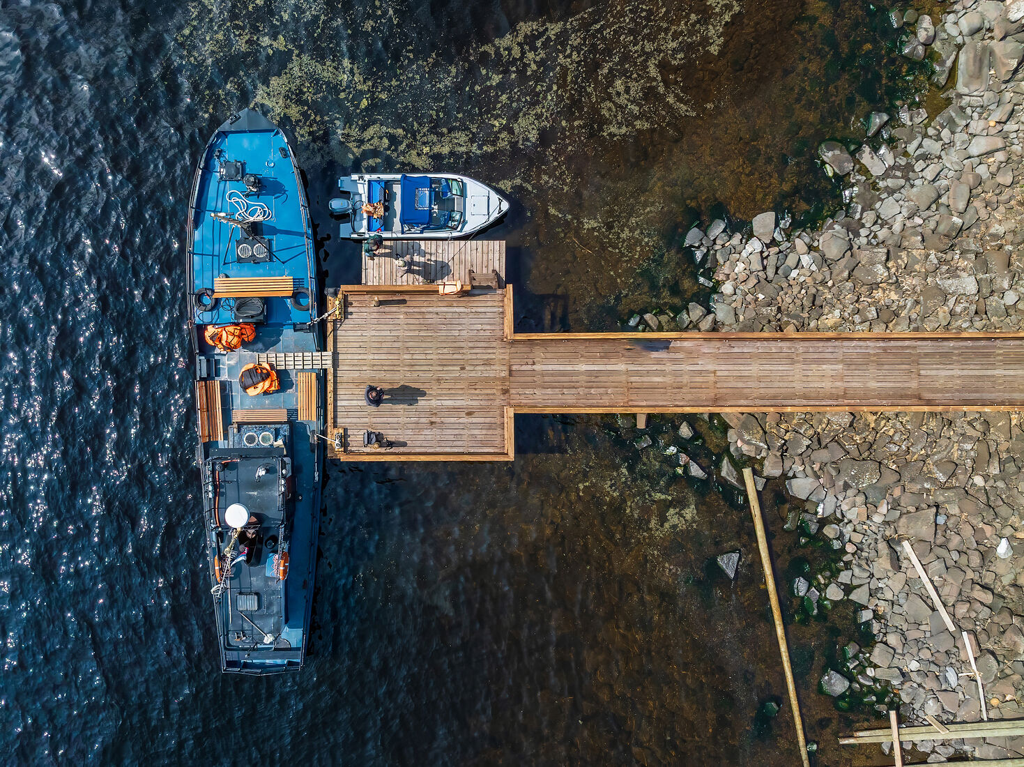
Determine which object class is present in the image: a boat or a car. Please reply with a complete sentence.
The one in the frame is a boat.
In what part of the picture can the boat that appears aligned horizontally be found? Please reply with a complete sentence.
The boat that appears aligned horizontally is located in the top region of the scene.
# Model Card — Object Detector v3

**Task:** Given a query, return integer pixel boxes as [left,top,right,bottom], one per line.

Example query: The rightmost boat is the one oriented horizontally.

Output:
[330,173,510,241]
